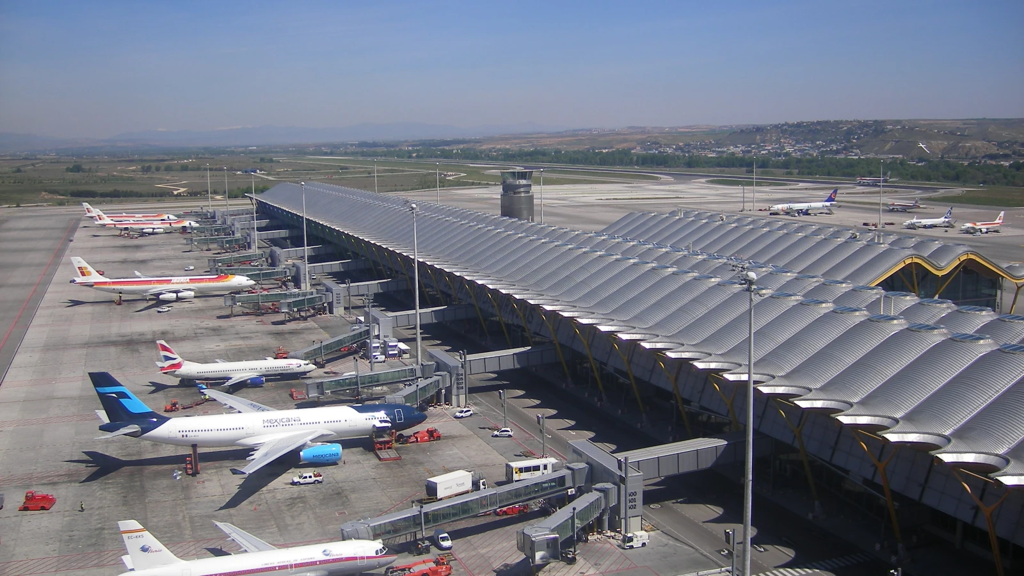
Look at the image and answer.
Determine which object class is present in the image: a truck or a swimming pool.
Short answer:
truck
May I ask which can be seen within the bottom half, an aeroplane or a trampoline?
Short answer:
aeroplane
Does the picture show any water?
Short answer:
No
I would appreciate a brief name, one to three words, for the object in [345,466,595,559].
jet bridge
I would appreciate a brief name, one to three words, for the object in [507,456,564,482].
bus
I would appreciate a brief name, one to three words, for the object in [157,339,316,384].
airplane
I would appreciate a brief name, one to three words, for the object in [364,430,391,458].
work vehicle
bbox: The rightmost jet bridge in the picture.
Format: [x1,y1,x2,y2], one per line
[536,482,618,571]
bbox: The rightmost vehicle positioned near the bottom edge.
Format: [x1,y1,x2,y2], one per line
[618,527,653,551]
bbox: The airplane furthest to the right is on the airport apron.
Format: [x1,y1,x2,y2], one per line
[960,210,1004,232]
